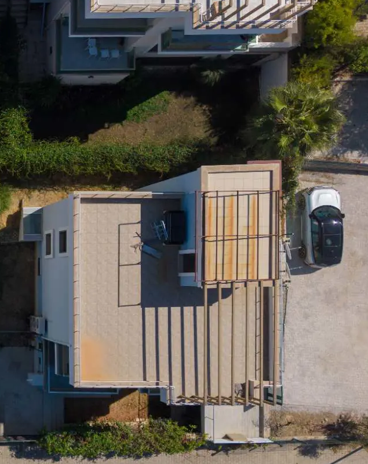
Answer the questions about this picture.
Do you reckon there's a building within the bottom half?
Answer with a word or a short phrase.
Yes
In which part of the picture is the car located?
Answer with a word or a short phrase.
right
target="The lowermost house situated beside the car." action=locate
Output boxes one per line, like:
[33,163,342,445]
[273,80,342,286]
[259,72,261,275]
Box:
[8,161,282,444]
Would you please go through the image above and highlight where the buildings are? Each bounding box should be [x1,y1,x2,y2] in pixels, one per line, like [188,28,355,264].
[8,161,282,444]
[29,0,318,86]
